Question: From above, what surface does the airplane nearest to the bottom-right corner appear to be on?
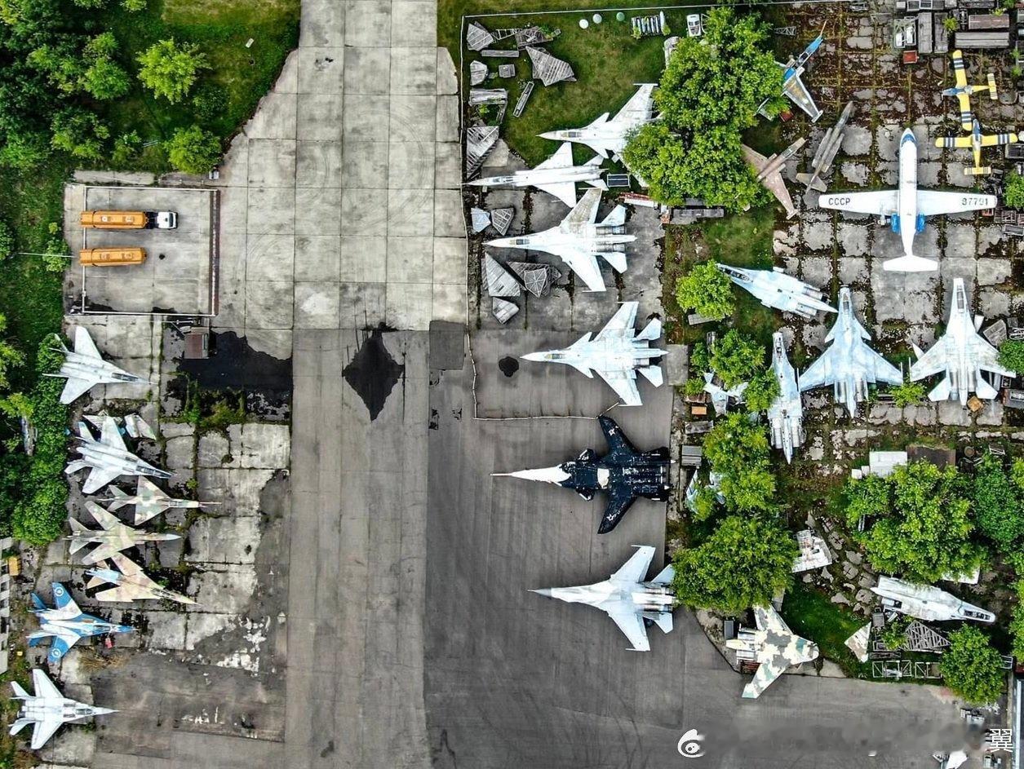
grass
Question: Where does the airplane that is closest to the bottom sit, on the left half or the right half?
left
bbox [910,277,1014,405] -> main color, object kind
white airplane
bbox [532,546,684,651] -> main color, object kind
white airplane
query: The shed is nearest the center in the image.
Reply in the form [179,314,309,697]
[681,444,703,466]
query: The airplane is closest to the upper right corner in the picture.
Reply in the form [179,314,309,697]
[941,50,998,129]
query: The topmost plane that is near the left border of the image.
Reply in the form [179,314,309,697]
[37,326,154,405]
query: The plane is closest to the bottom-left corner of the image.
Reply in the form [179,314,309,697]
[0,670,119,749]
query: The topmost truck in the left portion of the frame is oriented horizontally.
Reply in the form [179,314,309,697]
[78,208,187,231]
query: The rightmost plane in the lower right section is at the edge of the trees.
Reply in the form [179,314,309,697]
[871,577,997,625]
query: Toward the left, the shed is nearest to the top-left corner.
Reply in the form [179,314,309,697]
[184,327,216,358]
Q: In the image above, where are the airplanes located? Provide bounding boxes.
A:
[726,597,820,702]
[18,583,138,662]
[532,546,684,651]
[85,554,205,606]
[55,502,181,573]
[717,262,838,321]
[797,286,902,418]
[723,137,805,217]
[745,27,830,124]
[91,476,224,525]
[941,50,998,129]
[37,326,154,405]
[57,415,177,493]
[910,277,1014,405]
[533,84,686,187]
[489,417,676,533]
[820,128,998,271]
[936,117,1018,174]
[796,101,852,192]
[514,303,668,405]
[479,187,636,291]
[766,333,804,464]
[462,141,605,209]
[0,670,119,749]
[871,577,997,625]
